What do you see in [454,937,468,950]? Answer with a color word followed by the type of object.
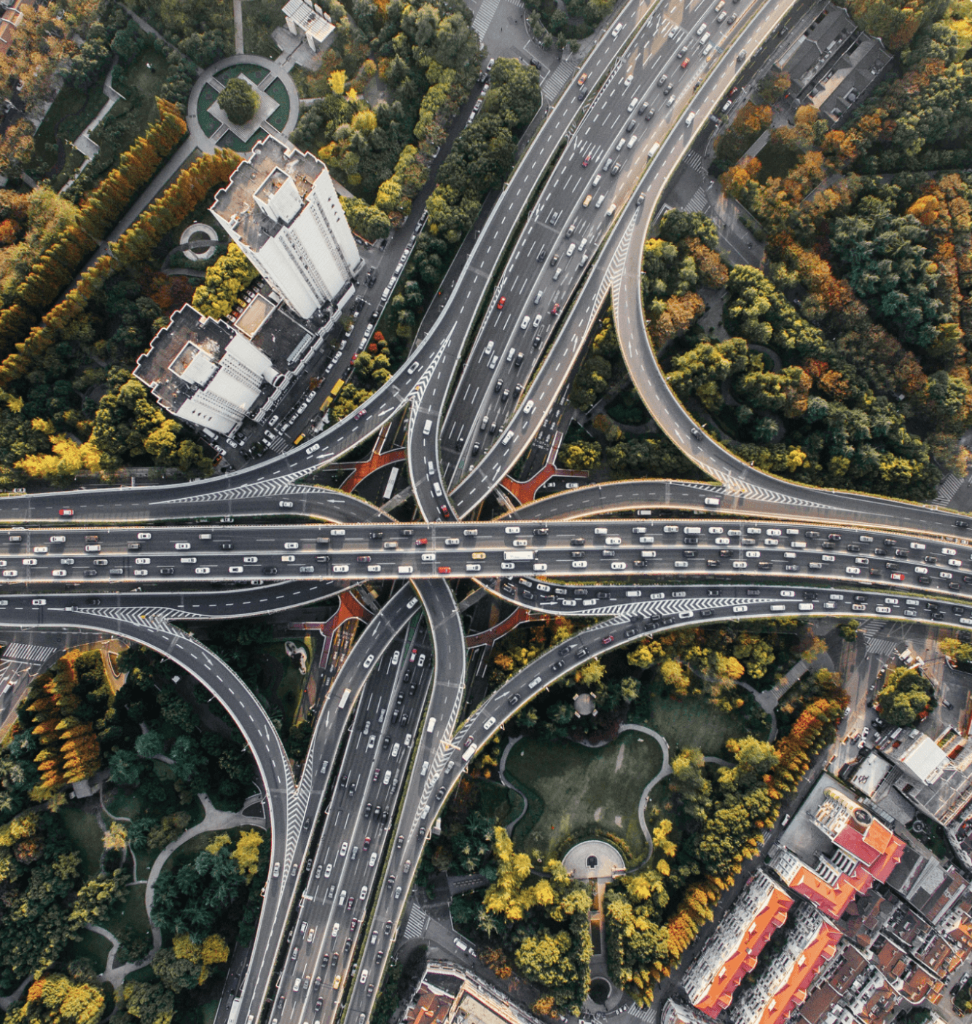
white vehicle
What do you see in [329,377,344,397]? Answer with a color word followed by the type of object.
yellow vehicle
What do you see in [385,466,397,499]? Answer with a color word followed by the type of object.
white vehicle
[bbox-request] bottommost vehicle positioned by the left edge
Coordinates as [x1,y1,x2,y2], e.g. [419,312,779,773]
[3,679,17,693]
